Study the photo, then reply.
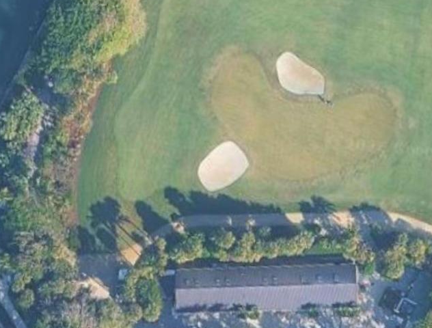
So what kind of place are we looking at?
golf course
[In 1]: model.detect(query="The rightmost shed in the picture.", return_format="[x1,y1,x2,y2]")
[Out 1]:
[379,285,413,319]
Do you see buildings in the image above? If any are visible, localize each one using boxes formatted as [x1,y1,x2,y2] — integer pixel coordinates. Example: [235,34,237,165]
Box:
[379,285,413,319]
[173,264,357,313]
